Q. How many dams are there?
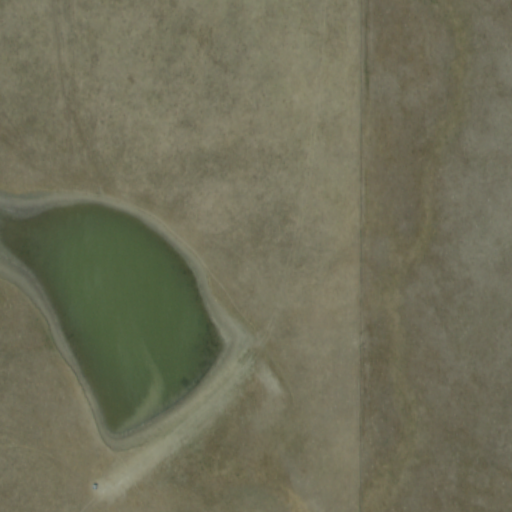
1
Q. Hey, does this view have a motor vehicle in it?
No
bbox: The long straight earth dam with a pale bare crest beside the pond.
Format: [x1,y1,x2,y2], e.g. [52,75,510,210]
[108,334,265,503]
